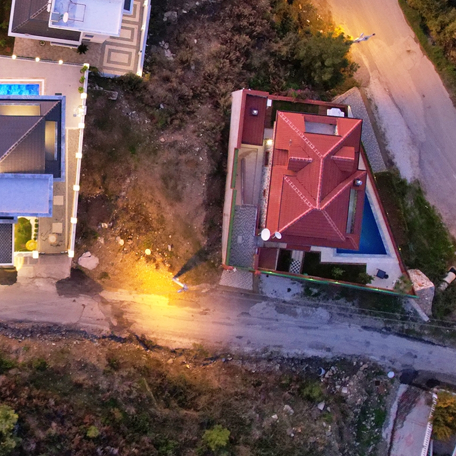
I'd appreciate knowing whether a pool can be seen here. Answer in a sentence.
Yes, the picture does show a pool.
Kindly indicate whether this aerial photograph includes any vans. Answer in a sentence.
No, I can't see a single van in this photo.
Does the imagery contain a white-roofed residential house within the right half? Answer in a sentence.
No, looking within the right half, there is no white-roofed residential house.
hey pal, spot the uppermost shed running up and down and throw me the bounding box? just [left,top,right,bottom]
[241,95,267,146]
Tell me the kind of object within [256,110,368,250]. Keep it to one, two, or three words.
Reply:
house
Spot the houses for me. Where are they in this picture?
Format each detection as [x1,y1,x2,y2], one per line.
[0,96,65,223]
[7,0,134,50]
[256,110,368,250]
